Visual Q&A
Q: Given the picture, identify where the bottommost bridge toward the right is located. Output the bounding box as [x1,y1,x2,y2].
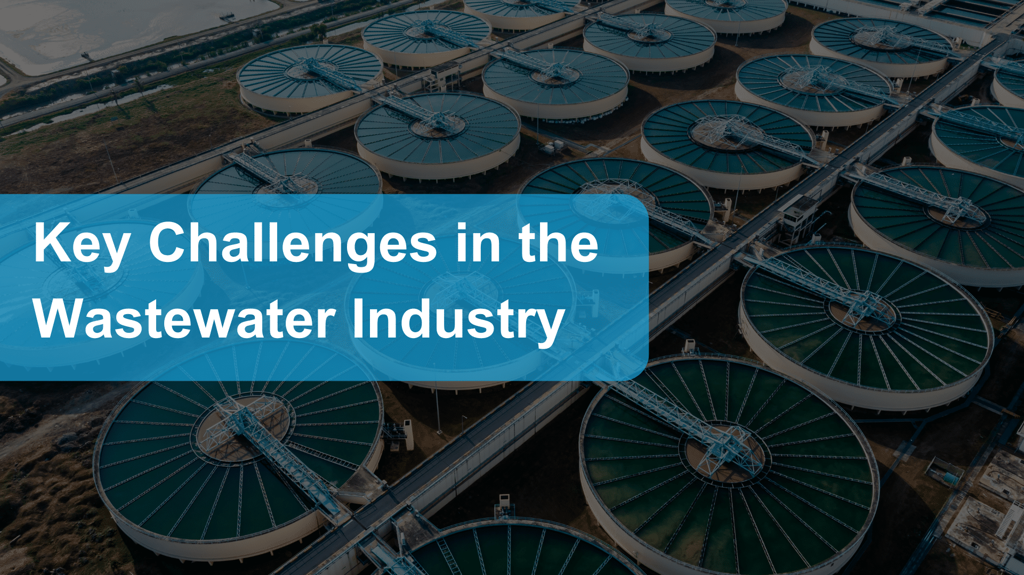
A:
[594,375,722,448]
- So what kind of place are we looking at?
industrial area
